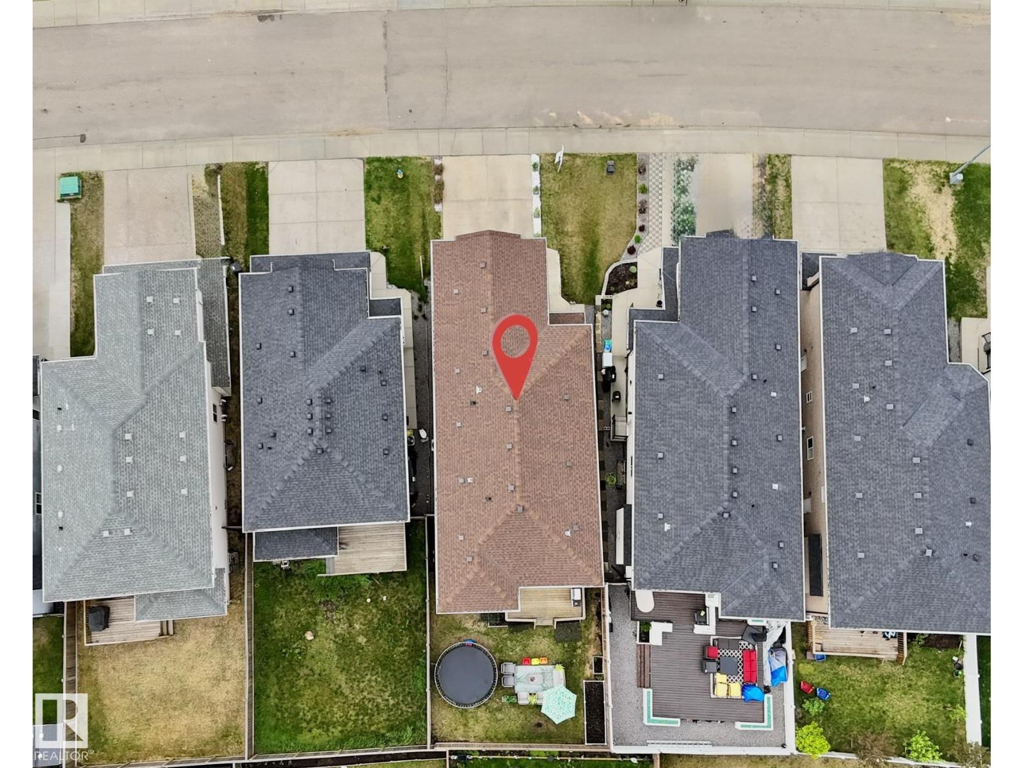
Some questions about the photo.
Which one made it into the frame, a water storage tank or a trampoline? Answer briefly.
trampoline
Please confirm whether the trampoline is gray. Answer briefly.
Yes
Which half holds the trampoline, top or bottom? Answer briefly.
bottom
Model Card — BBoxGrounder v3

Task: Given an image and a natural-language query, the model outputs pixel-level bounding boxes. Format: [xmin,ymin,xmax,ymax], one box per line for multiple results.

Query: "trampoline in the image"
[434,642,498,708]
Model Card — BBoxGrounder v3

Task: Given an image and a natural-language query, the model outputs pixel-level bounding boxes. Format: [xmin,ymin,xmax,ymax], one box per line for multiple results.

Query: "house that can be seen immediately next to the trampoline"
[430,230,605,615]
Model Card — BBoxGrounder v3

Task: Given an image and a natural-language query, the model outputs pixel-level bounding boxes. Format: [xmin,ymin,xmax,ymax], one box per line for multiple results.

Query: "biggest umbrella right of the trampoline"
[540,685,576,724]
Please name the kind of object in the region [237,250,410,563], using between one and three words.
house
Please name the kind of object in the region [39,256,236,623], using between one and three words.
house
